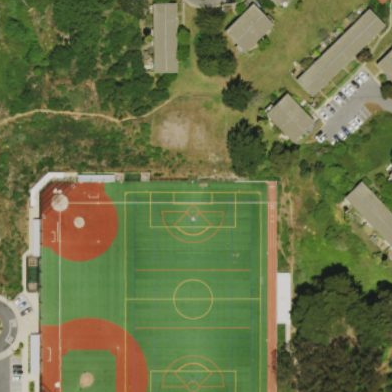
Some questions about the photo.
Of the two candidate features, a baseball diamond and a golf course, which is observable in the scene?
baseball diamond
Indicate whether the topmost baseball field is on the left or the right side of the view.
left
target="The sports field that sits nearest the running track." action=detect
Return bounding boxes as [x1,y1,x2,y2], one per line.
[40,182,268,392]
